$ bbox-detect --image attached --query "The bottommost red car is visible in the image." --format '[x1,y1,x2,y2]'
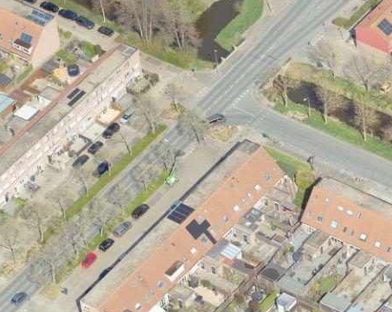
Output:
[80,253,97,268]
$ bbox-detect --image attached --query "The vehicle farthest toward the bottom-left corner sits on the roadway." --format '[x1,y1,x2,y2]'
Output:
[11,290,26,305]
